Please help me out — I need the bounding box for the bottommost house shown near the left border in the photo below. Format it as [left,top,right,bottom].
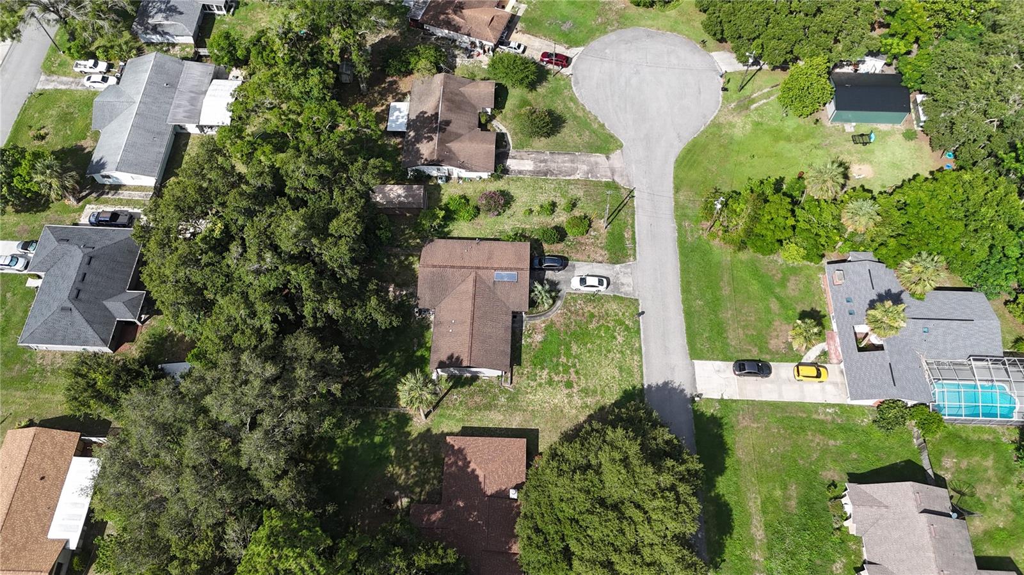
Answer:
[0,427,106,575]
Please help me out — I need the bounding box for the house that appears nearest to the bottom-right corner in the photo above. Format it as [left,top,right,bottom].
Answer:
[830,482,983,575]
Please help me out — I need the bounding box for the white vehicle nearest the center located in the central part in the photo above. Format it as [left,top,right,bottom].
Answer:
[571,274,608,291]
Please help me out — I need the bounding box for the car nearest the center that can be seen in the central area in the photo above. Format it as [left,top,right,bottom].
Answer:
[532,254,568,271]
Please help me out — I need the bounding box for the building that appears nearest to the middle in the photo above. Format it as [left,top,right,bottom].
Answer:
[417,237,530,377]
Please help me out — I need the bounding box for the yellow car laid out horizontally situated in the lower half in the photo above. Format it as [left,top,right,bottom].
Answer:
[792,363,829,381]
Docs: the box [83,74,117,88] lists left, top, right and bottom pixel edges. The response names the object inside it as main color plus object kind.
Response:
white car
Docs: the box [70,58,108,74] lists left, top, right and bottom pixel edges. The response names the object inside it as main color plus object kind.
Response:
white vehicle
